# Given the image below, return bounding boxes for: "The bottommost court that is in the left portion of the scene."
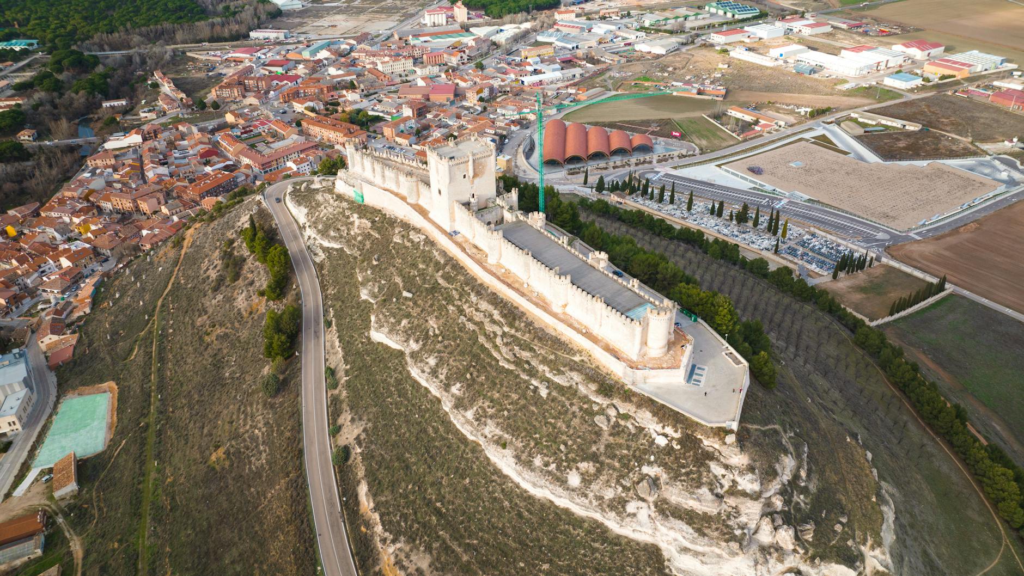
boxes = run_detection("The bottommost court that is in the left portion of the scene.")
[32,393,110,468]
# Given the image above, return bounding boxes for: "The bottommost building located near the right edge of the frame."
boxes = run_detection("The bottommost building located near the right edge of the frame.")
[722,139,1003,235]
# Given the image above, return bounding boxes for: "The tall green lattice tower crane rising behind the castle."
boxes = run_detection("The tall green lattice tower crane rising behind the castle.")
[509,86,676,202]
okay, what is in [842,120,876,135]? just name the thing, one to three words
shed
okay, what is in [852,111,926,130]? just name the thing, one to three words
shed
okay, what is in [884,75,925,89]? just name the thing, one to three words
building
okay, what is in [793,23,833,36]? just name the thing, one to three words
building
